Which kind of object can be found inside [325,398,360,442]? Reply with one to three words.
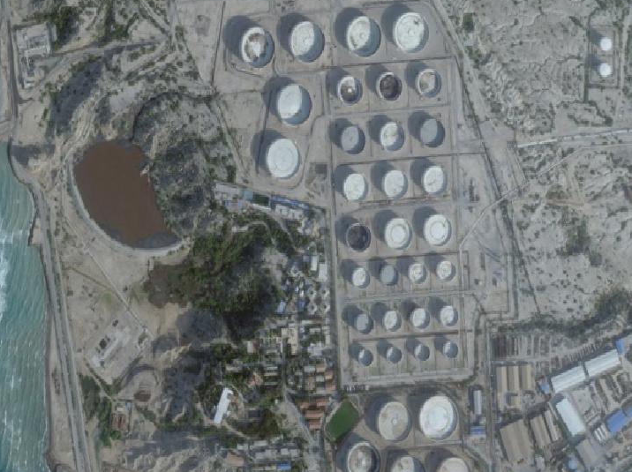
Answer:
soccer field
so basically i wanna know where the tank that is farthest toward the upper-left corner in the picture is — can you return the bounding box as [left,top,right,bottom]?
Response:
[235,26,276,69]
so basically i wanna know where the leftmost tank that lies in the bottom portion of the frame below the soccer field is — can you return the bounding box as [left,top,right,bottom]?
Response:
[341,440,382,472]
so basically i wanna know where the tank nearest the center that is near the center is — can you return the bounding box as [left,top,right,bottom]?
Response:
[341,221,371,254]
